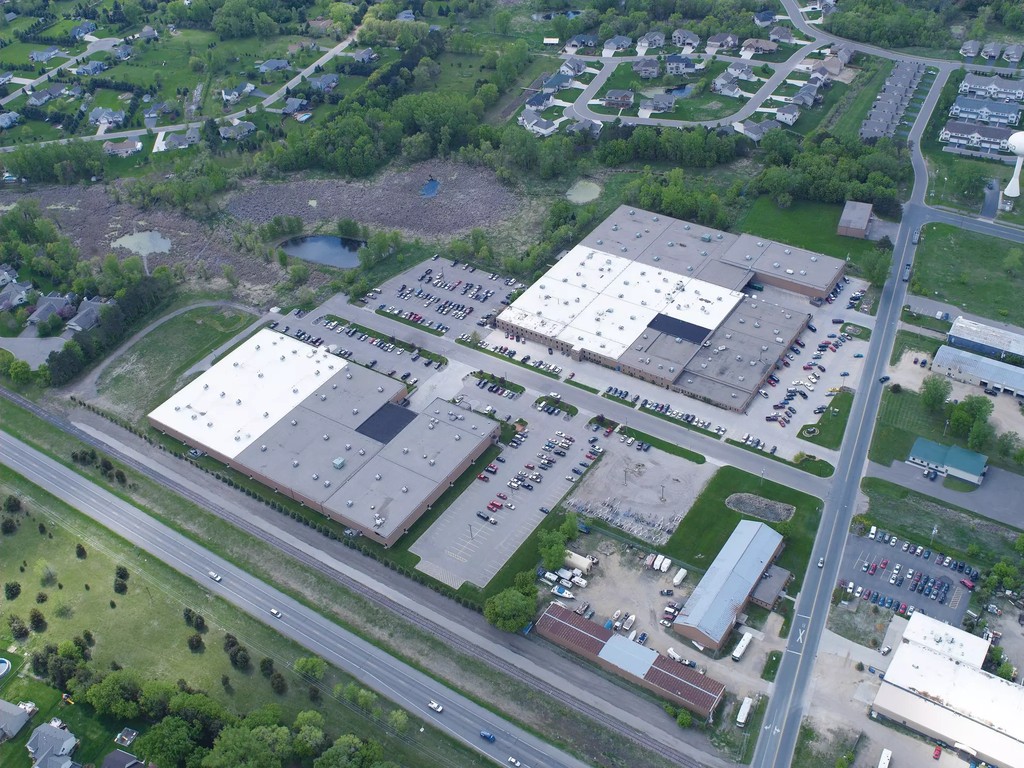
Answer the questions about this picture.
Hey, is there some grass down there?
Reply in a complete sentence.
Yes, some grass is visible.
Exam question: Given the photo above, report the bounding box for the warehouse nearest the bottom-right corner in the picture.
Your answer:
[872,611,1024,768]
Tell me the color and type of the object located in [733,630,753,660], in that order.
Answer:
white camper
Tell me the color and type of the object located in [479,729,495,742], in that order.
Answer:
blue vehicle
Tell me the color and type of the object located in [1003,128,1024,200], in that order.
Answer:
white water tower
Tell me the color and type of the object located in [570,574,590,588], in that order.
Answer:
white vehicle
